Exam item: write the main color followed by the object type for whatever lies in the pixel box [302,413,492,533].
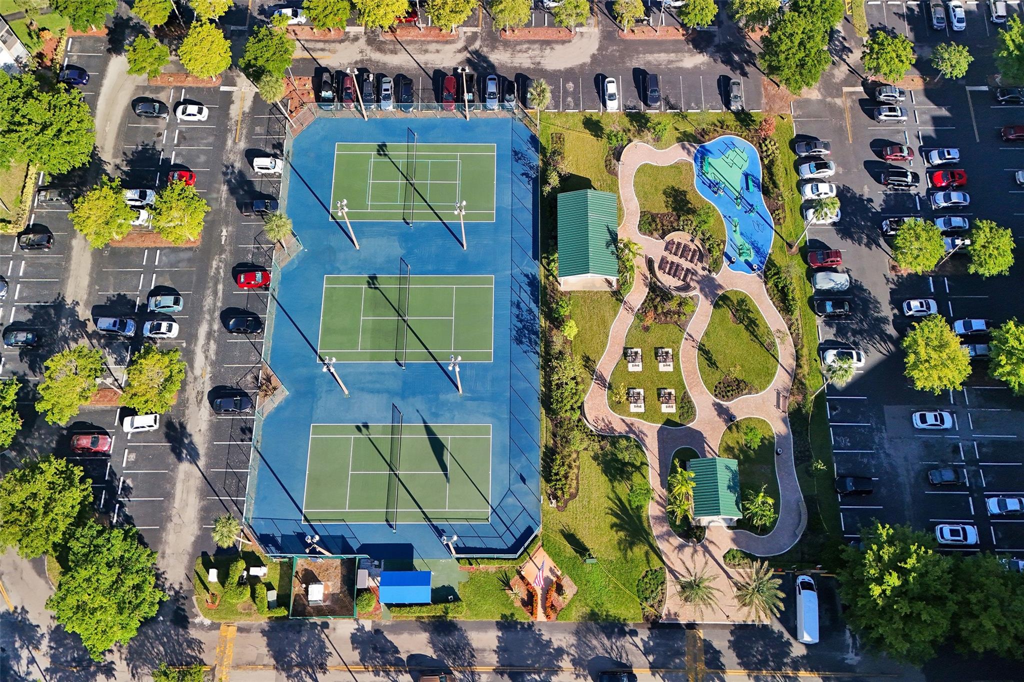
green tennis court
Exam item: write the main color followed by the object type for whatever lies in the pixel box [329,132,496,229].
green tennis court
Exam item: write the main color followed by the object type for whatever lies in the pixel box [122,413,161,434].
white car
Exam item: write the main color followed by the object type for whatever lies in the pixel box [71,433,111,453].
red car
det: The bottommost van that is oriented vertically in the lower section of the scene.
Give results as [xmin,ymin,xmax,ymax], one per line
[794,579,822,646]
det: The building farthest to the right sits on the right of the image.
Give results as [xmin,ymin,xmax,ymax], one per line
[686,457,742,526]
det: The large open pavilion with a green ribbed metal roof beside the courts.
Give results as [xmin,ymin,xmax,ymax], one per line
[557,189,619,290]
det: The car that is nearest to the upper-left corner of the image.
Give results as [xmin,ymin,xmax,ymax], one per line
[57,68,91,86]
